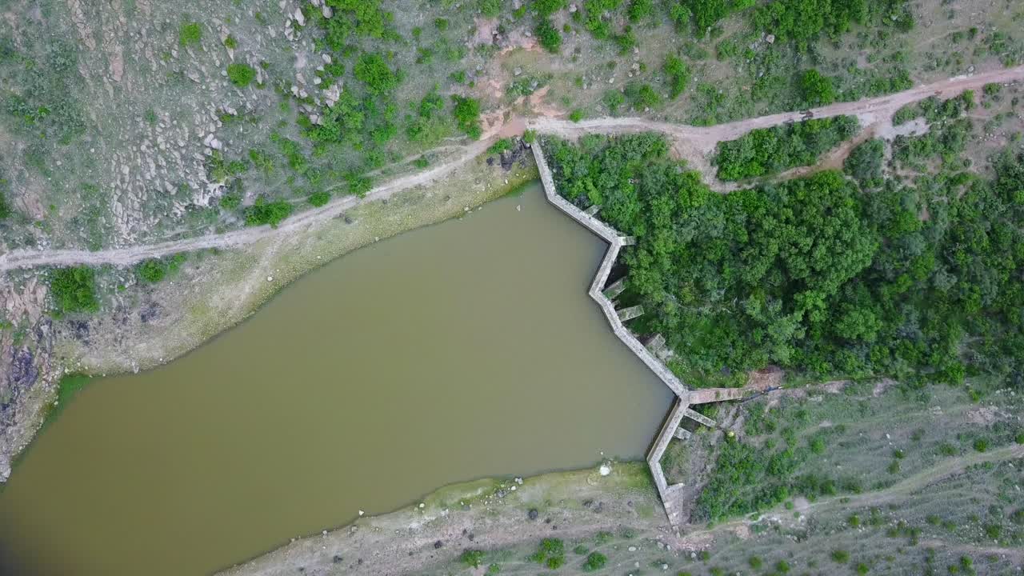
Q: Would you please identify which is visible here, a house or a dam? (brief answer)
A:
dam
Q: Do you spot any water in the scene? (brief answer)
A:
Yes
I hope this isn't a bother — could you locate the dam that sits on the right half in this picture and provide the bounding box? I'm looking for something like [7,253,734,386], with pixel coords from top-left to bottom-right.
[531,142,754,525]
